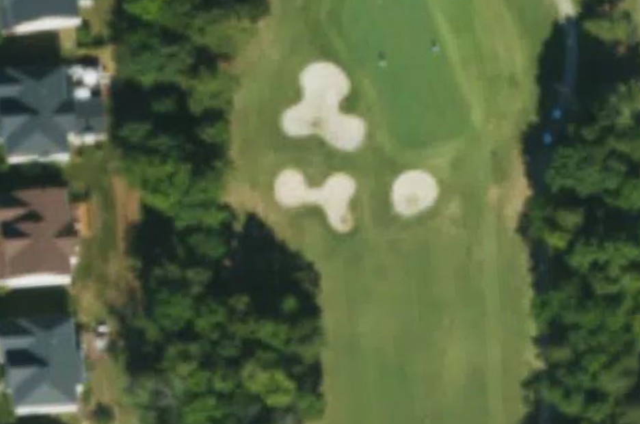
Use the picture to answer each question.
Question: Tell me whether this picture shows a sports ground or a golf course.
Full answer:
The area seen from above is a golf course.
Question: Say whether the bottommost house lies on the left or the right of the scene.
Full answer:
The bottommost house appears in the left half of the scene.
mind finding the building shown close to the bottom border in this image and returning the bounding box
[0,318,89,413]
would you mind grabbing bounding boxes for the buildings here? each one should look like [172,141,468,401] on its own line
[0,188,91,283]
[0,318,89,413]
[0,66,107,164]
[0,0,97,37]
